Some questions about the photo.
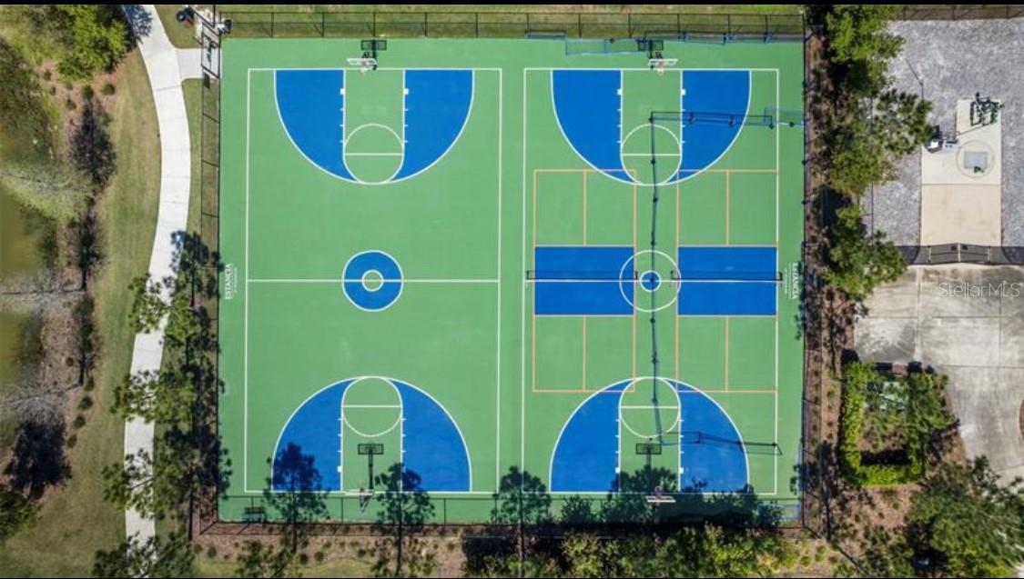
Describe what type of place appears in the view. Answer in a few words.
sports ground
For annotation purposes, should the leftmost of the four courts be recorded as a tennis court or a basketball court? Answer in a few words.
basketball court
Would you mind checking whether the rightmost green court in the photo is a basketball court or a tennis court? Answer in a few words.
basketball court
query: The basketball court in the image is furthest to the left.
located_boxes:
[216,37,512,523]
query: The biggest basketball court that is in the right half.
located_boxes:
[509,37,804,523]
